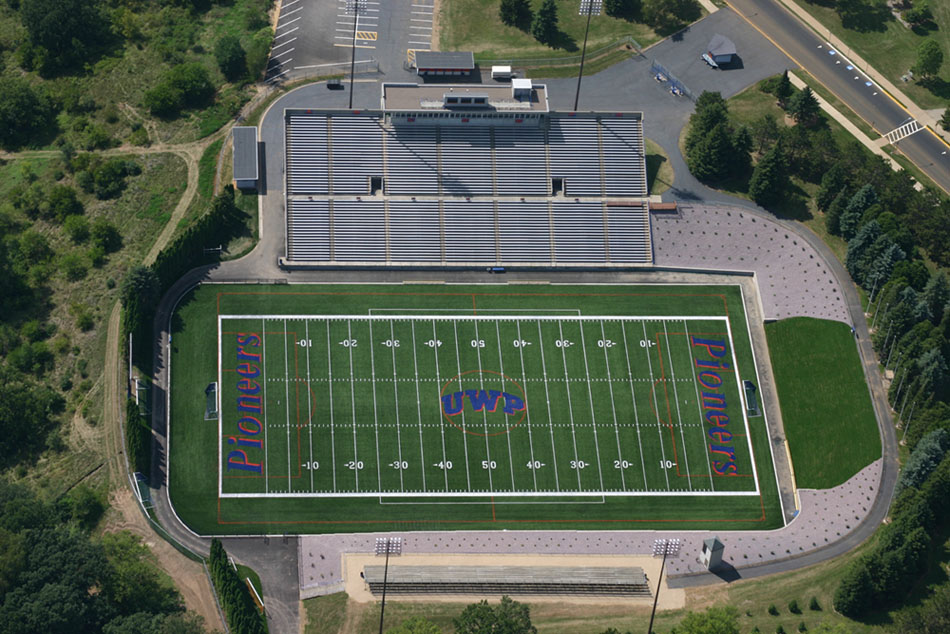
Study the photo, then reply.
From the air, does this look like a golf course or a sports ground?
sports ground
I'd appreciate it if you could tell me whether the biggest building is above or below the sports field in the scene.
above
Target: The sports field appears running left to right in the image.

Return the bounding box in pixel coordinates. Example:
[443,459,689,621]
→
[166,282,788,537]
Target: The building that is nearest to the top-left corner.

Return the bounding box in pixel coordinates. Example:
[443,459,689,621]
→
[233,125,259,188]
